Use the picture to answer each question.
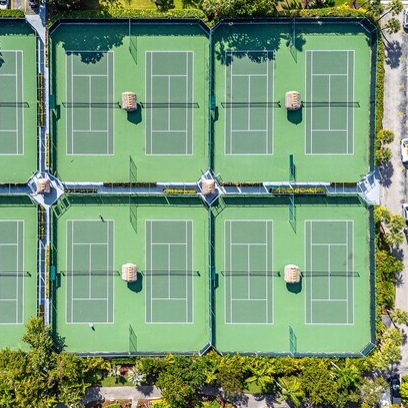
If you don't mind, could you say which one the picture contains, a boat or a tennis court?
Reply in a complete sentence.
I can see a tennis court in this picture.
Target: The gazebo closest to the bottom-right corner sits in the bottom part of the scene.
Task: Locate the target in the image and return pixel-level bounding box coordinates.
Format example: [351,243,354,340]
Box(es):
[282,264,299,284]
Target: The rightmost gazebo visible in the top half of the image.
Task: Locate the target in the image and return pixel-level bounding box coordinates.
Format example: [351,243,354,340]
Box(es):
[283,91,299,110]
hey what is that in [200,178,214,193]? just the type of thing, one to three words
gazebo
